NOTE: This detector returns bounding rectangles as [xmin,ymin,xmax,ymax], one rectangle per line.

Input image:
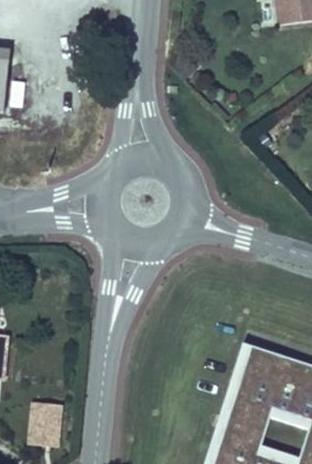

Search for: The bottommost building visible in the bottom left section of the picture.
[26,402,64,448]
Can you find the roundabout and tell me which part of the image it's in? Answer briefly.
center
